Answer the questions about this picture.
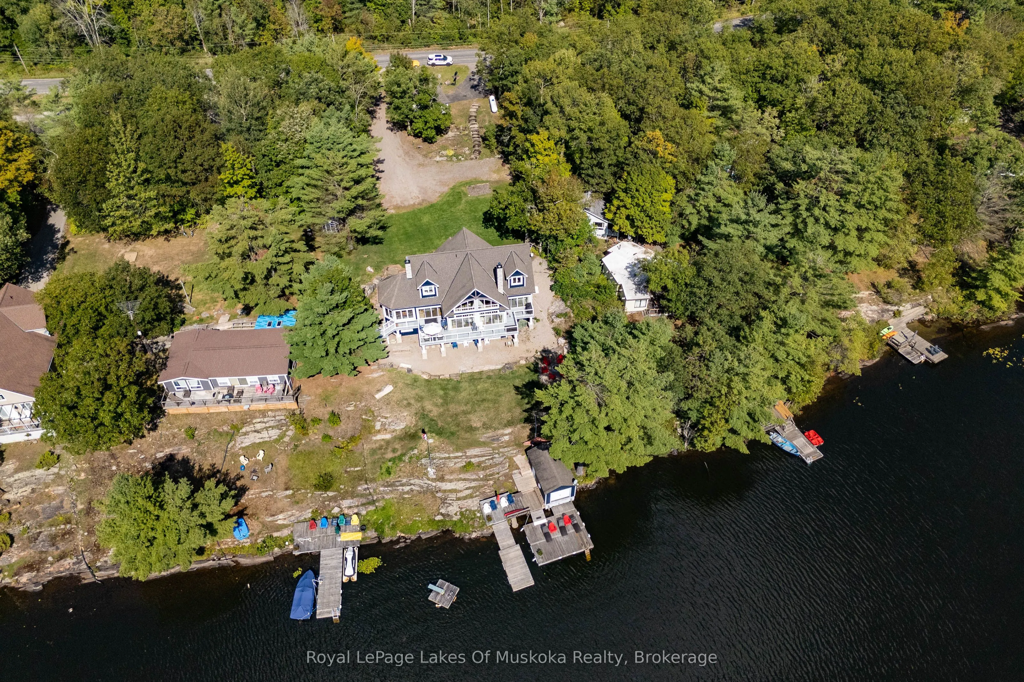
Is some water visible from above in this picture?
Yes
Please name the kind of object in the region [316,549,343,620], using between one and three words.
pier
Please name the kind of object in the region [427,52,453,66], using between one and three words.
car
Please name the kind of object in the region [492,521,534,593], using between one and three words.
pier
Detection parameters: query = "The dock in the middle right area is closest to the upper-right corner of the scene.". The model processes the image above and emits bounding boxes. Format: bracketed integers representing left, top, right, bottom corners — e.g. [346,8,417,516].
[887,308,948,366]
